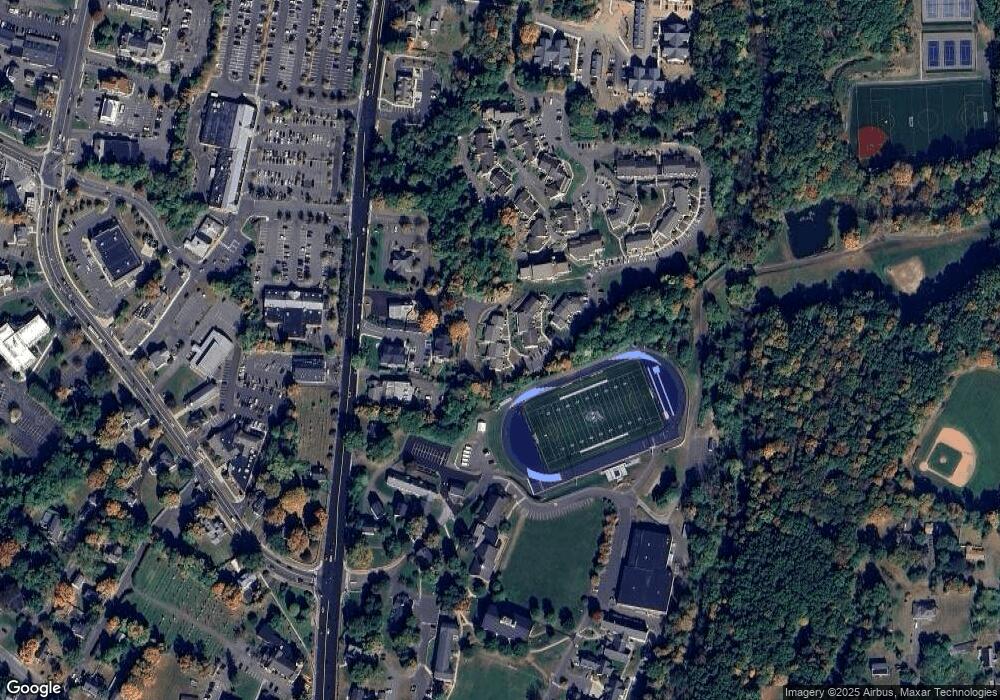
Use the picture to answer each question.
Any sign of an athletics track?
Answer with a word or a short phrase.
Yes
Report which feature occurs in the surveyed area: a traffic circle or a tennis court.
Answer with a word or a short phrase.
tennis court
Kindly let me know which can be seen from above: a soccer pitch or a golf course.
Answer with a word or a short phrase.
soccer pitch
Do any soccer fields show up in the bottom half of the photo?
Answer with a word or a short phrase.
Yes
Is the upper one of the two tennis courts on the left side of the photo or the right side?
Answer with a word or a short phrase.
right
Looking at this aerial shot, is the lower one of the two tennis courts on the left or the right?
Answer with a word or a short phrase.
right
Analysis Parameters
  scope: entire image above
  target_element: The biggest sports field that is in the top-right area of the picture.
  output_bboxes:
[853,81,993,161]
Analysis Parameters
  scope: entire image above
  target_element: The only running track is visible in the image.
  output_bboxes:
[502,347,687,493]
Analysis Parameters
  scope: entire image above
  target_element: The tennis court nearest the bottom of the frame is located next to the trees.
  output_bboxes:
[923,31,976,70]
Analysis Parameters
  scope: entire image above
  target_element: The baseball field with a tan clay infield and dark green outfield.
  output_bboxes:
[914,361,1000,497]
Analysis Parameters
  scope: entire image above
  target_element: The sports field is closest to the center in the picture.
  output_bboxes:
[523,360,663,471]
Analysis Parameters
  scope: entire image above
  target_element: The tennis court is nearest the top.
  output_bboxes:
[922,0,974,23]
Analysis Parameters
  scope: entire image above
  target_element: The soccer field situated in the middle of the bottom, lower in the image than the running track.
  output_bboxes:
[500,498,606,613]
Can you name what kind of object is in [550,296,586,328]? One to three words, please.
house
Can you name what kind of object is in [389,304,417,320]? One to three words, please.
building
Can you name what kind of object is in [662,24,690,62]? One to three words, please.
building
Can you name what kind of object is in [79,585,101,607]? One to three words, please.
house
